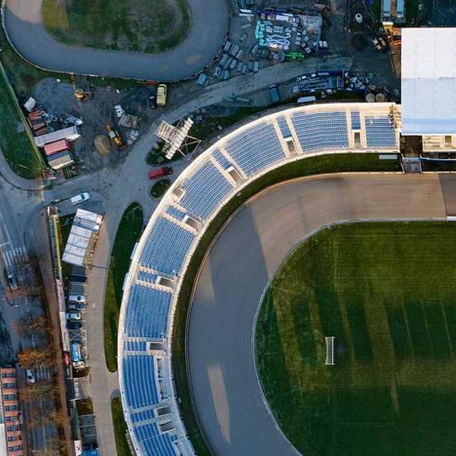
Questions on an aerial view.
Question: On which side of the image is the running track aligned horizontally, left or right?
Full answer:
It is on the left.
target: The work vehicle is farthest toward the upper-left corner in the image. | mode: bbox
[70,74,86,100]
